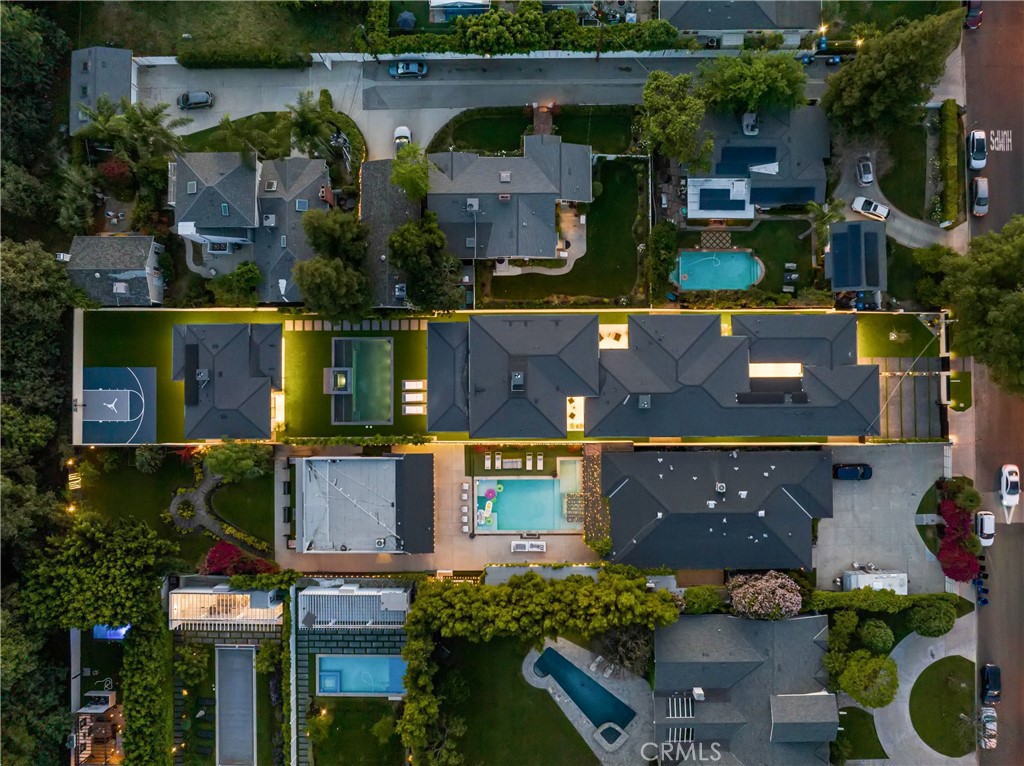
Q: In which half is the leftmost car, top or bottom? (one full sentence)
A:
The leftmost car is in the top half of the image.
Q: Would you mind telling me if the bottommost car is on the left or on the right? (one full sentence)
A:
The bottommost car sits on the right side.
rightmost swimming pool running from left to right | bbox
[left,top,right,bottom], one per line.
[674,250,767,291]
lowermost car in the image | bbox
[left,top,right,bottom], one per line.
[977,706,1000,749]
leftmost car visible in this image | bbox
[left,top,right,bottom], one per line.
[177,89,216,111]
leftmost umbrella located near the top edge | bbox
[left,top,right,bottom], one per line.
[397,13,415,31]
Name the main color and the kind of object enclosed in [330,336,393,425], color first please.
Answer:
green swimming pool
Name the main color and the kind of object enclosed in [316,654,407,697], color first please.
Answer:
blue swimming pool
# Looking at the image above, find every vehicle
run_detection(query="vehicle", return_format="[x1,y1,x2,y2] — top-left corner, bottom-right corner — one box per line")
[978,661,1003,705]
[977,706,1000,749]
[848,194,893,222]
[392,122,411,155]
[973,510,998,546]
[177,89,216,111]
[966,128,989,171]
[961,0,985,35]
[969,177,992,218]
[837,568,907,594]
[832,461,872,481]
[997,463,1021,504]
[853,150,876,189]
